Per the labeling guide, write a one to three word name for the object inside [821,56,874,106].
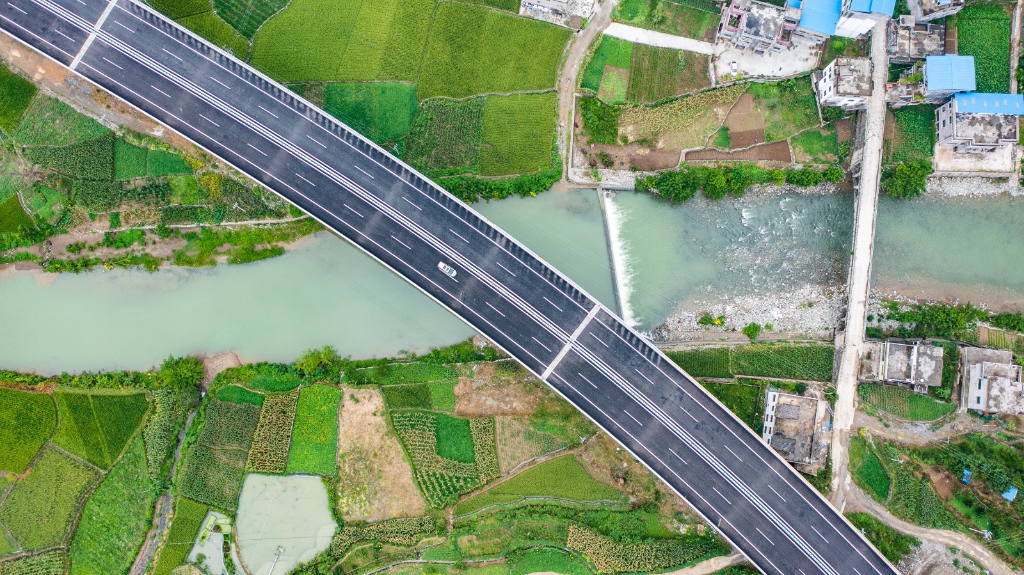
house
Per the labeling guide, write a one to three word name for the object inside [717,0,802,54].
house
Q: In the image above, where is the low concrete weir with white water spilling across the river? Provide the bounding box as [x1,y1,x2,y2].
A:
[600,189,632,327]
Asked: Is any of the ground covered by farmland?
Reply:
Yes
